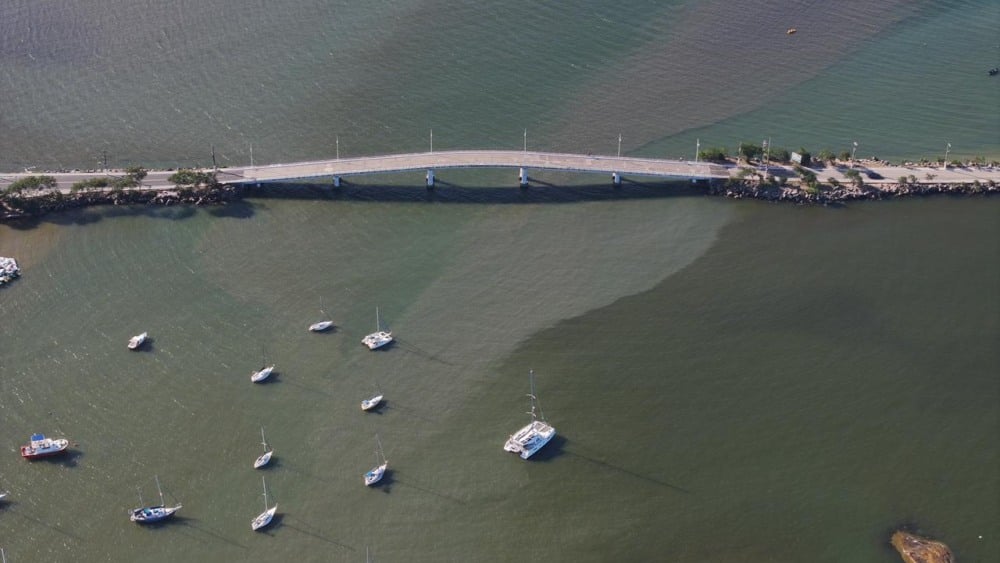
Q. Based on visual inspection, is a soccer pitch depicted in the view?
No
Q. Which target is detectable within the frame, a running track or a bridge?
bridge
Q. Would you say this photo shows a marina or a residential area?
marina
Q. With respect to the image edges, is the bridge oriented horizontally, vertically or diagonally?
horizontally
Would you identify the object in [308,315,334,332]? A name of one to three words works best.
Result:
boat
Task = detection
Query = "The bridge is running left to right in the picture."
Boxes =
[240,150,713,191]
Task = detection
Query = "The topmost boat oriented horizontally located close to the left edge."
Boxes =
[21,435,74,460]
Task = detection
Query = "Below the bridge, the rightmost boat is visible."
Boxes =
[504,370,555,461]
